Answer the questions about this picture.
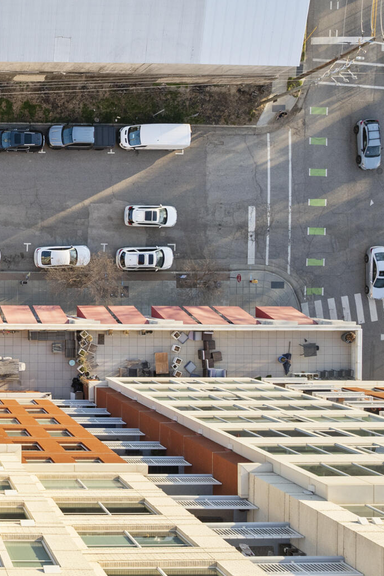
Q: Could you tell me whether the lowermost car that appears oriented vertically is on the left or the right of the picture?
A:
right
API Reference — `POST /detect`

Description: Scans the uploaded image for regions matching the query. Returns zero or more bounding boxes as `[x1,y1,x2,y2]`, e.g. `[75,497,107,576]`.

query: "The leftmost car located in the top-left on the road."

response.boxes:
[0,126,45,154]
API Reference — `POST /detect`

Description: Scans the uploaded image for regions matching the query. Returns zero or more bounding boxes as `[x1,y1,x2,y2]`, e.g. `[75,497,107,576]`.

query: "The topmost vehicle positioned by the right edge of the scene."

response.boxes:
[353,119,383,171]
